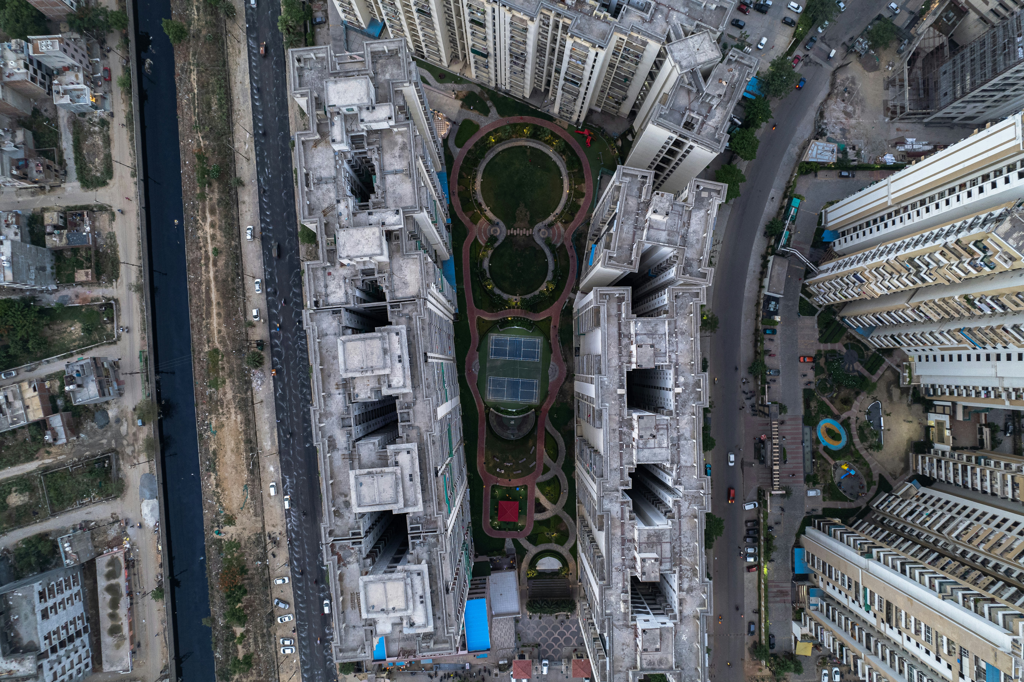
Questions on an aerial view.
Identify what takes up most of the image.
buildings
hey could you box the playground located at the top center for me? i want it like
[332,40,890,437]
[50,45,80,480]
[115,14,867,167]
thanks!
[566,123,617,188]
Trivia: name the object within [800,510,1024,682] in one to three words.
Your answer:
building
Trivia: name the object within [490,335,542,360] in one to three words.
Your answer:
sports court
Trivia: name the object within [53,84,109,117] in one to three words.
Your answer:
house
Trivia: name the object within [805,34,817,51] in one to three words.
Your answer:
vehicle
